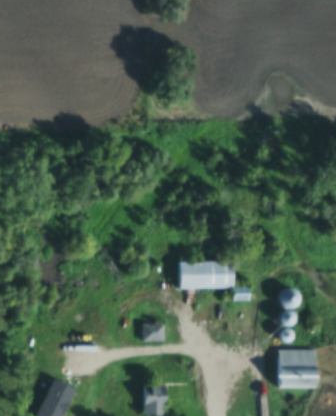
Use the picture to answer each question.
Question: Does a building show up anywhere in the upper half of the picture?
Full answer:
No, no building appears in the upper half of the picture.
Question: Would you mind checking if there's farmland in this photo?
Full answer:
Yes, farmland shows up in the scene.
